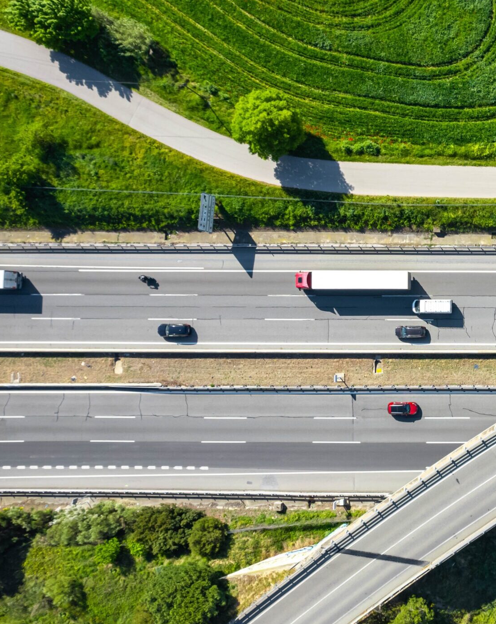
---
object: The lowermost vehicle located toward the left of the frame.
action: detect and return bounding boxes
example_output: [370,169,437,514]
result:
[159,323,191,337]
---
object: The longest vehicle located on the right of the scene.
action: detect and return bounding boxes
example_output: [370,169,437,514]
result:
[295,269,413,291]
